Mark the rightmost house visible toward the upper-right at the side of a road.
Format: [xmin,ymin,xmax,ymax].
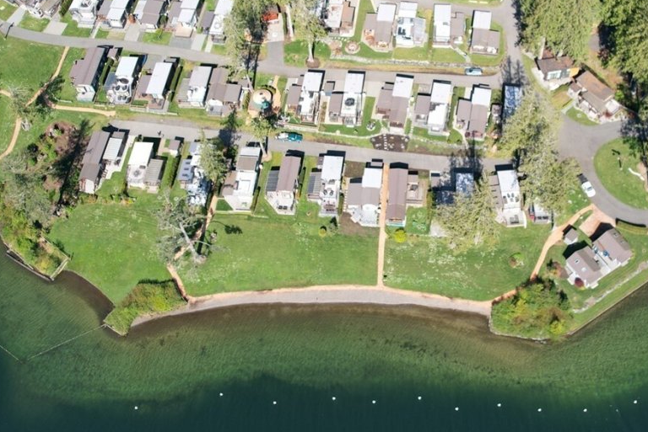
[566,70,623,121]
